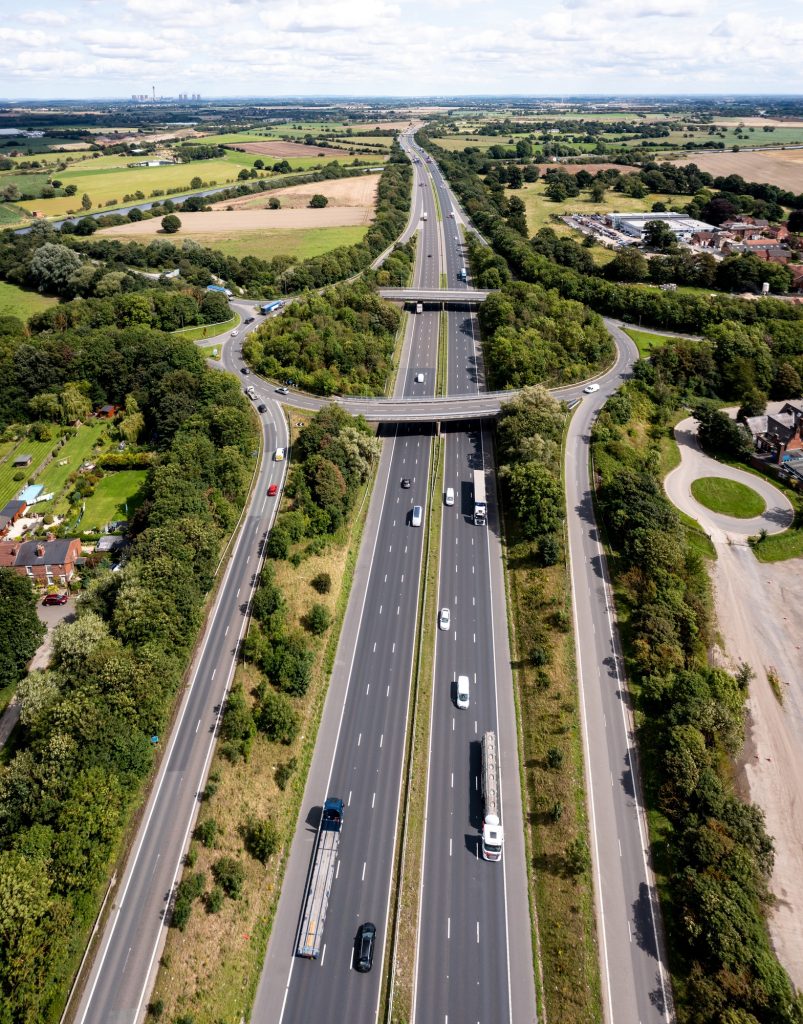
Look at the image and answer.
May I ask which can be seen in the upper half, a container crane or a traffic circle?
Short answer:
traffic circle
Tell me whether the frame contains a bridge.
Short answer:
Yes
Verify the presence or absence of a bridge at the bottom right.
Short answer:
No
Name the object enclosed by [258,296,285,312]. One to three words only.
vehicle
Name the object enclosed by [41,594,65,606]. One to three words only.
vehicle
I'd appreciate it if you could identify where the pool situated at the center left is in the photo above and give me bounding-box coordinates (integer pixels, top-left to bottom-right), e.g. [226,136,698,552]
[16,482,43,500]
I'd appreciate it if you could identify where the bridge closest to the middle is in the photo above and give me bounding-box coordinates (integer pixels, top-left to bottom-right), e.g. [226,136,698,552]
[355,392,507,439]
